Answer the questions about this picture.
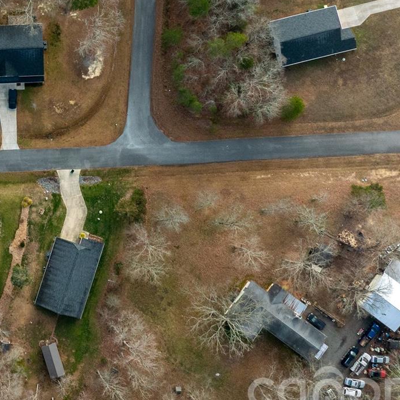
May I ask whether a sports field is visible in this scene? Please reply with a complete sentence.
No, the scene contains no sports field.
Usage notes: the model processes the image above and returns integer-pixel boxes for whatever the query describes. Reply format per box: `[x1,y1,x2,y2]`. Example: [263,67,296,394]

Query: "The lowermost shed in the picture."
[41,339,65,379]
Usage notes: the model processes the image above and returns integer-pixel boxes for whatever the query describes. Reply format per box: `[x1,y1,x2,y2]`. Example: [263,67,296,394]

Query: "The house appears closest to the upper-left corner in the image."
[0,15,45,84]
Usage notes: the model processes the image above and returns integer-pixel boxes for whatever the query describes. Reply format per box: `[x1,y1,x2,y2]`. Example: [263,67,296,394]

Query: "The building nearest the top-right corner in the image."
[265,6,358,68]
